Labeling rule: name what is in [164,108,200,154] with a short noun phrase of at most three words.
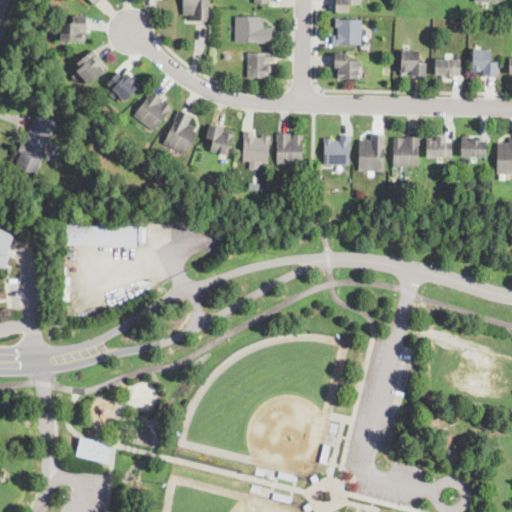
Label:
house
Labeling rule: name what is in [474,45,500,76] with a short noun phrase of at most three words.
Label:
house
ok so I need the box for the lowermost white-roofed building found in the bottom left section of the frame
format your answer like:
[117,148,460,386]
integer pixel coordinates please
[75,438,113,465]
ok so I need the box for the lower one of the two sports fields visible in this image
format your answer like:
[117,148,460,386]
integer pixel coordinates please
[162,474,304,512]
